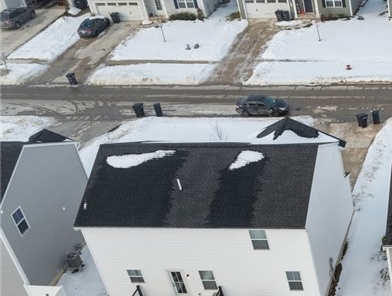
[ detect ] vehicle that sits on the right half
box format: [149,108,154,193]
[234,91,296,115]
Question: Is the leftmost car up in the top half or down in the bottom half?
top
